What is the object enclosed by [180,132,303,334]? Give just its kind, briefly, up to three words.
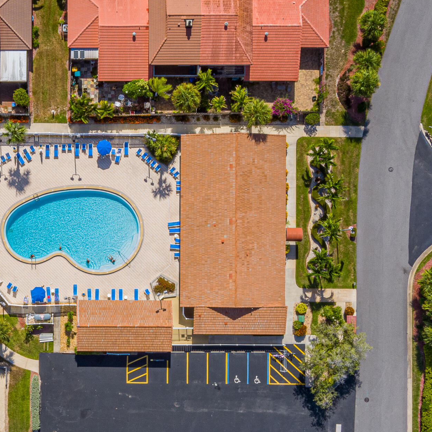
building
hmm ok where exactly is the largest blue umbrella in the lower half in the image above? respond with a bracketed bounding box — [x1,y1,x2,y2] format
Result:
[30,287,46,302]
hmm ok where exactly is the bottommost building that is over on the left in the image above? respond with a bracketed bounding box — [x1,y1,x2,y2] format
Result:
[76,300,173,354]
